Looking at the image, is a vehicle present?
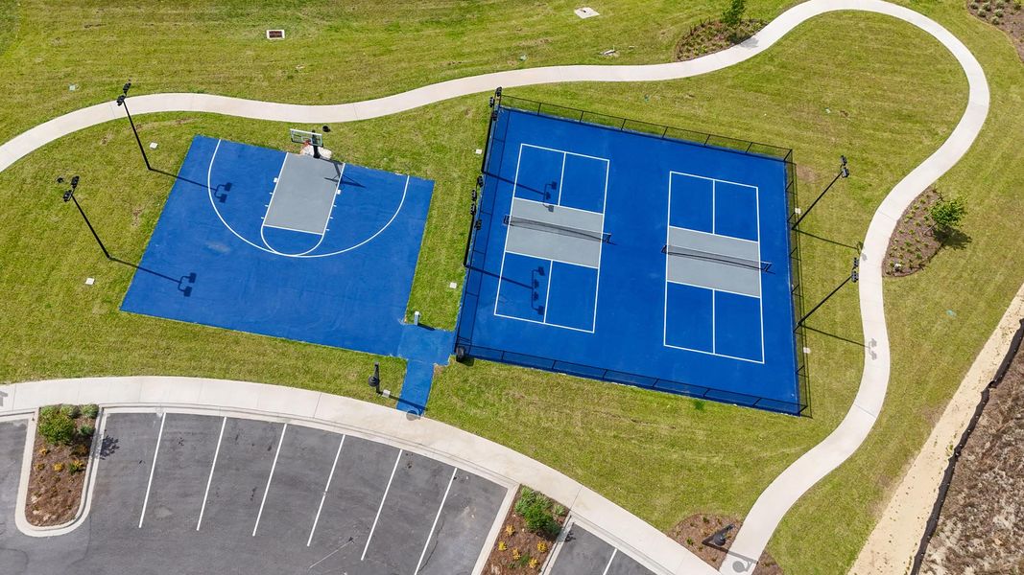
No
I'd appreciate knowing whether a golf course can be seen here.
No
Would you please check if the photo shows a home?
No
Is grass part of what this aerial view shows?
Yes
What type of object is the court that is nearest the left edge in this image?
basketball court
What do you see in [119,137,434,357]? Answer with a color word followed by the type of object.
blue basketball court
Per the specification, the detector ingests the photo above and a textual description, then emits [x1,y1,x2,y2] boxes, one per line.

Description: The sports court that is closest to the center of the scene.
[452,104,642,387]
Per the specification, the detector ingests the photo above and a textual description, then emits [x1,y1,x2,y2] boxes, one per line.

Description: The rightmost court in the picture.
[626,131,803,419]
